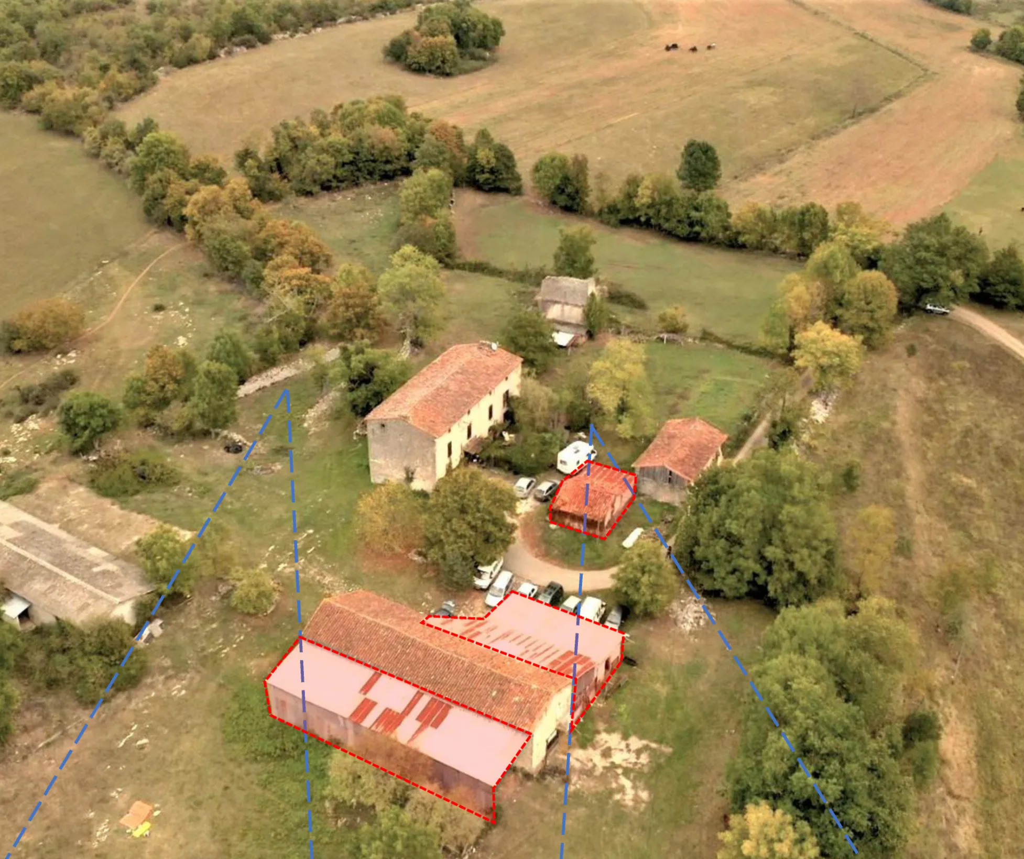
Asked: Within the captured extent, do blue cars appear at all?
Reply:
No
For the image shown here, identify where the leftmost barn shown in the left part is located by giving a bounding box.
[0,503,159,631]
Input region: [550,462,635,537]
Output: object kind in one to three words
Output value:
shed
